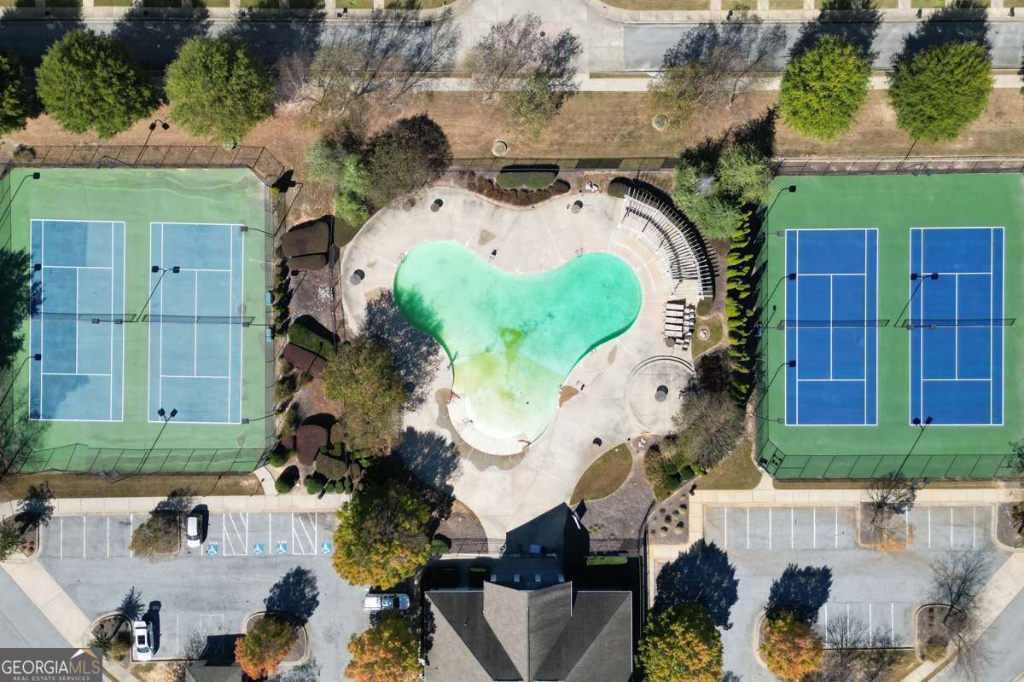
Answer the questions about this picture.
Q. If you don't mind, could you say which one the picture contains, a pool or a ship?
pool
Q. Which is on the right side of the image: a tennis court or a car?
tennis court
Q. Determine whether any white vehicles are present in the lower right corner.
No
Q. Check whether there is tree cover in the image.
Yes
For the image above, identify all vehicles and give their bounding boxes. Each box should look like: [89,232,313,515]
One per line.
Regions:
[134,619,156,661]
[364,591,411,613]
[184,511,205,548]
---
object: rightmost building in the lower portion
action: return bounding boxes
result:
[426,574,632,682]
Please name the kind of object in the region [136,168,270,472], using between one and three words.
tennis court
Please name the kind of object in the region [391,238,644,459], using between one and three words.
swimming pool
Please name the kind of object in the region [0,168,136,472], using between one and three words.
tennis court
